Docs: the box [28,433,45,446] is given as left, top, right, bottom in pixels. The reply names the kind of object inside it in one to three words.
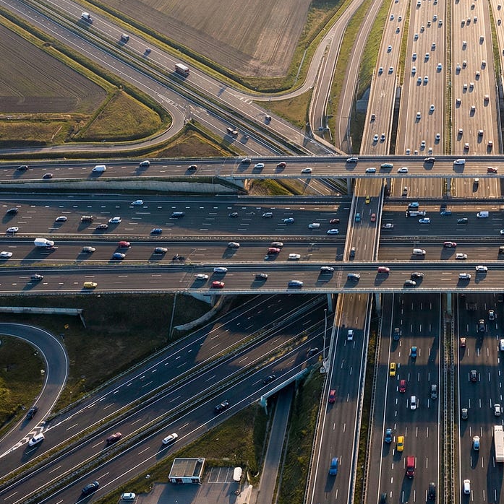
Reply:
vehicle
